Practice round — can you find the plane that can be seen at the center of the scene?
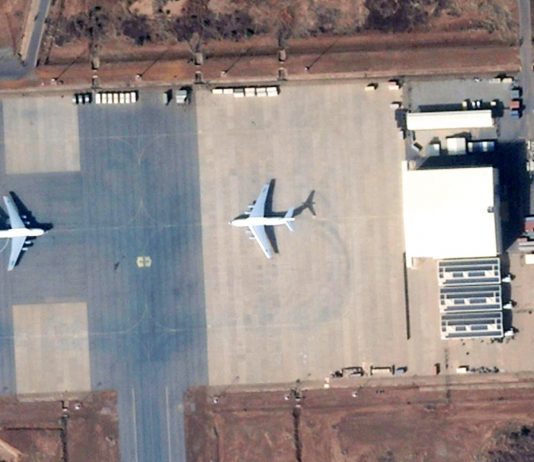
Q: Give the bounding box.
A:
[229,184,296,258]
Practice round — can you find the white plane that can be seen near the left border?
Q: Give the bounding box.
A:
[0,198,44,271]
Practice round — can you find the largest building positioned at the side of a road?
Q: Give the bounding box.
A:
[407,166,501,260]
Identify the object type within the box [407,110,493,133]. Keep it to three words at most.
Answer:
shed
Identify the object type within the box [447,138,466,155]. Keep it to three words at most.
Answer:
shed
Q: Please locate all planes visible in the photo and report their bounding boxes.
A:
[0,198,44,271]
[229,184,296,258]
